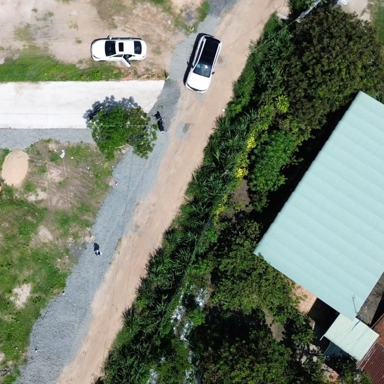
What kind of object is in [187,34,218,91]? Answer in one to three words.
car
